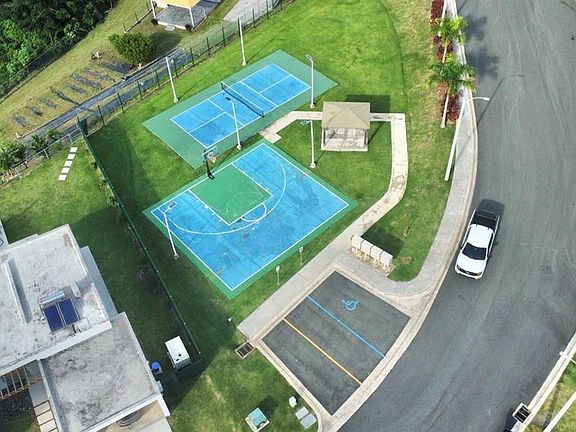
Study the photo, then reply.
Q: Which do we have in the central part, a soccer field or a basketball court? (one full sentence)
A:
Visible in the central part is a basketball court.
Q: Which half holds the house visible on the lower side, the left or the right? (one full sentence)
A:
The house visible on the lower side is on the left side of the image.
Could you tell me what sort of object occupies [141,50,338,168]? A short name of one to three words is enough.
sports court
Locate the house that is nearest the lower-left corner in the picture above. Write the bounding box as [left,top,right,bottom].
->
[0,224,179,432]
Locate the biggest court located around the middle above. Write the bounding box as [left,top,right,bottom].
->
[141,137,358,298]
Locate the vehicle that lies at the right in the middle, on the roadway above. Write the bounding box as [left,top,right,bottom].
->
[457,208,501,276]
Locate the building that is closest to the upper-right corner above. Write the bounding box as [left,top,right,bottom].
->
[321,102,371,151]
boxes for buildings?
[321,102,371,151]
[133,0,224,32]
[0,224,179,432]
